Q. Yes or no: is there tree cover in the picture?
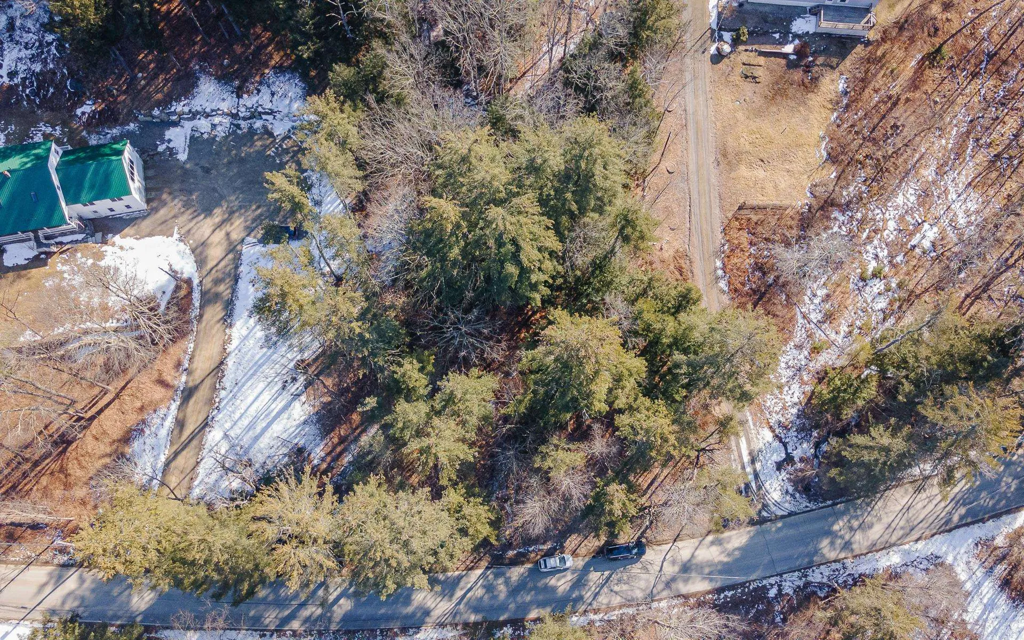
Yes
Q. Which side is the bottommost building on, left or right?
left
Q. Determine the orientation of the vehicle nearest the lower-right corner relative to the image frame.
from side to side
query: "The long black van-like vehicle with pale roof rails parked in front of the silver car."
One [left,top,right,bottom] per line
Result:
[605,540,647,561]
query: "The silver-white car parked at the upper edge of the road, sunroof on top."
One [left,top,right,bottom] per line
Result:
[537,553,574,572]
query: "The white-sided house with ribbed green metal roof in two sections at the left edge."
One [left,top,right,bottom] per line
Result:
[0,140,147,261]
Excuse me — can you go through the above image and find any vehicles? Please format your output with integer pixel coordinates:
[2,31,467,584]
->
[537,553,574,572]
[605,540,647,561]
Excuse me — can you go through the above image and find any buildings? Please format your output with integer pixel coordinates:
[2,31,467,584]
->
[0,140,147,261]
[743,0,889,32]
